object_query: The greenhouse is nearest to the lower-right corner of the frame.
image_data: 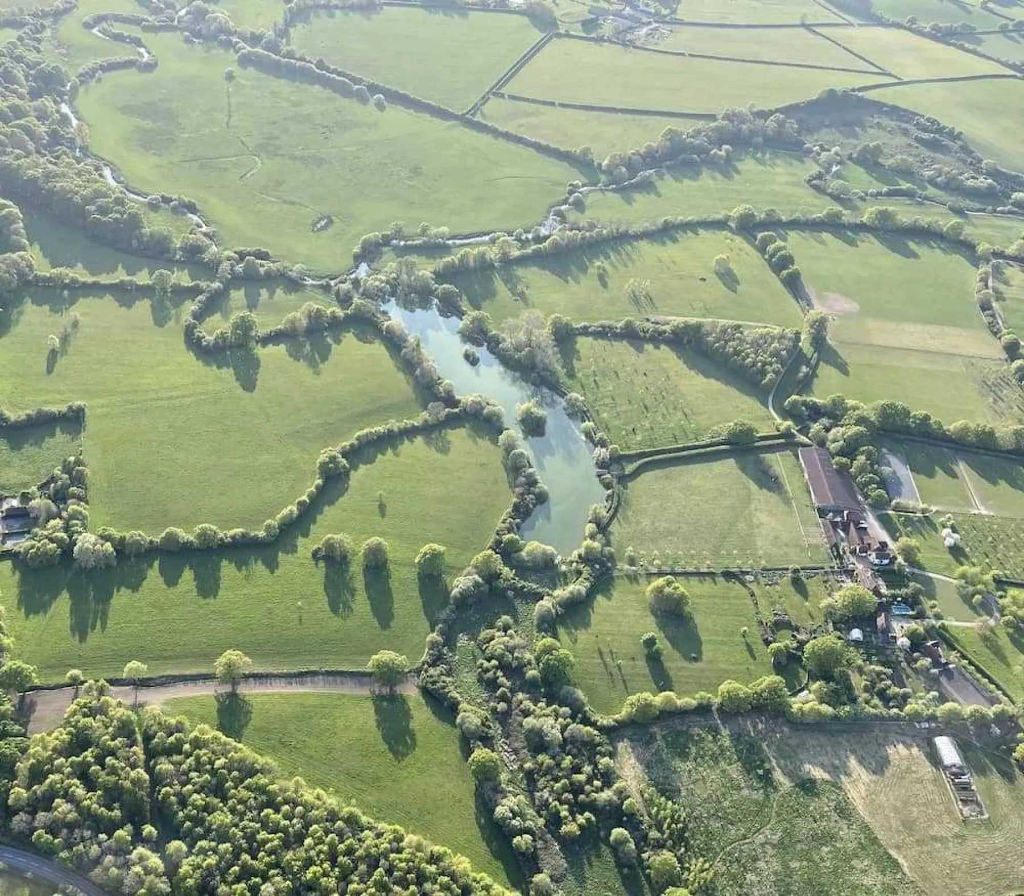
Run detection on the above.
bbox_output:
[935,733,964,770]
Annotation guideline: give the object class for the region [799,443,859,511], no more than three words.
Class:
barn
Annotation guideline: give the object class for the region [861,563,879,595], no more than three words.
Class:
building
